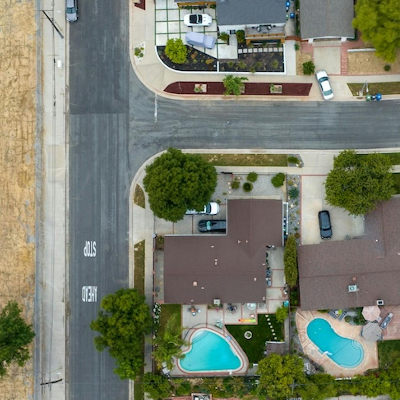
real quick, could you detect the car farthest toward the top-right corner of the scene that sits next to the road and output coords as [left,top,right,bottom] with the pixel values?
[316,70,333,101]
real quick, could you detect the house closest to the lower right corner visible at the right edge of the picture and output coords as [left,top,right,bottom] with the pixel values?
[297,196,400,310]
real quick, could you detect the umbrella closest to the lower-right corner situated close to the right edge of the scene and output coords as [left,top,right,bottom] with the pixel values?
[365,323,382,340]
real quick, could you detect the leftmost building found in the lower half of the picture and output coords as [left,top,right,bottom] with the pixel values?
[164,199,284,304]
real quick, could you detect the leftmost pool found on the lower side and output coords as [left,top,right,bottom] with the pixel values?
[177,327,243,374]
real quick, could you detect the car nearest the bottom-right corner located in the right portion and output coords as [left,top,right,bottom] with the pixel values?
[319,211,332,240]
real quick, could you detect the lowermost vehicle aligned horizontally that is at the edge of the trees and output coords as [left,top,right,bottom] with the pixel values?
[199,219,226,233]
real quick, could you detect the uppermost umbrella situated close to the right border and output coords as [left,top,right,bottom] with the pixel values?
[364,307,381,322]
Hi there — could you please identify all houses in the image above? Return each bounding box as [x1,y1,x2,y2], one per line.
[301,0,370,43]
[175,0,286,29]
[297,196,400,310]
[164,199,284,304]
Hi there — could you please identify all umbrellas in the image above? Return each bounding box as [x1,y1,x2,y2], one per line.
[365,323,382,340]
[364,307,381,322]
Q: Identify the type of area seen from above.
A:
residential area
